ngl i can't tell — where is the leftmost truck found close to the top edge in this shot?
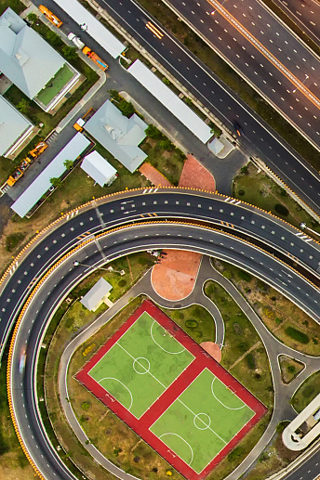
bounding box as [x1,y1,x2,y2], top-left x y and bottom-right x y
[37,3,59,25]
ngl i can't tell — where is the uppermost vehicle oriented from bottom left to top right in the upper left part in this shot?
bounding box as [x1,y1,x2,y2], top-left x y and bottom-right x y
[73,109,91,128]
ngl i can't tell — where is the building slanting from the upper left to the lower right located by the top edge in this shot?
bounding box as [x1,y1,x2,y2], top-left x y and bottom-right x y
[0,1,87,115]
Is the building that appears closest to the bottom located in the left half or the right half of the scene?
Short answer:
left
